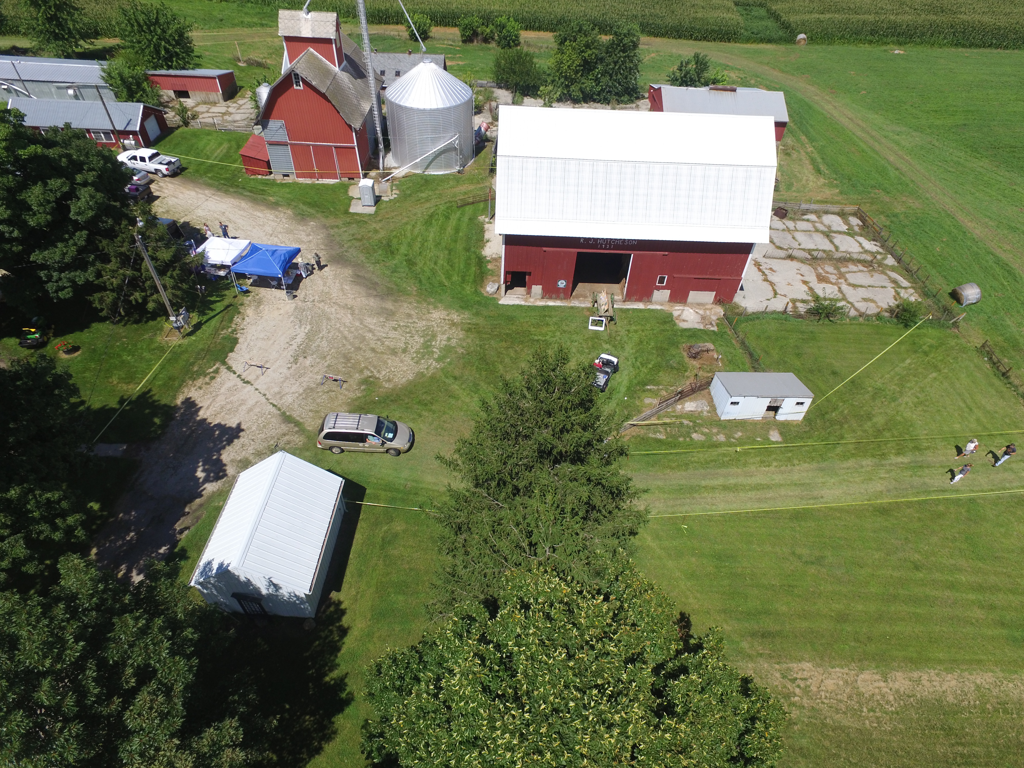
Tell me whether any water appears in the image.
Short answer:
No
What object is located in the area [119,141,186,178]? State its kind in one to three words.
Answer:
truck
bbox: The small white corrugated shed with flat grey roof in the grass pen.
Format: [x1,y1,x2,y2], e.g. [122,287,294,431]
[711,368,820,421]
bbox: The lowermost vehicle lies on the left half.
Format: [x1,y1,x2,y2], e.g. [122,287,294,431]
[315,409,417,459]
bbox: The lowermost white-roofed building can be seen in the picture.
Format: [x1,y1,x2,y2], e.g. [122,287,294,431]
[181,453,354,616]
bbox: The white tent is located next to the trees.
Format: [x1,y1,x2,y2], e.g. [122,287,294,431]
[192,236,253,287]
